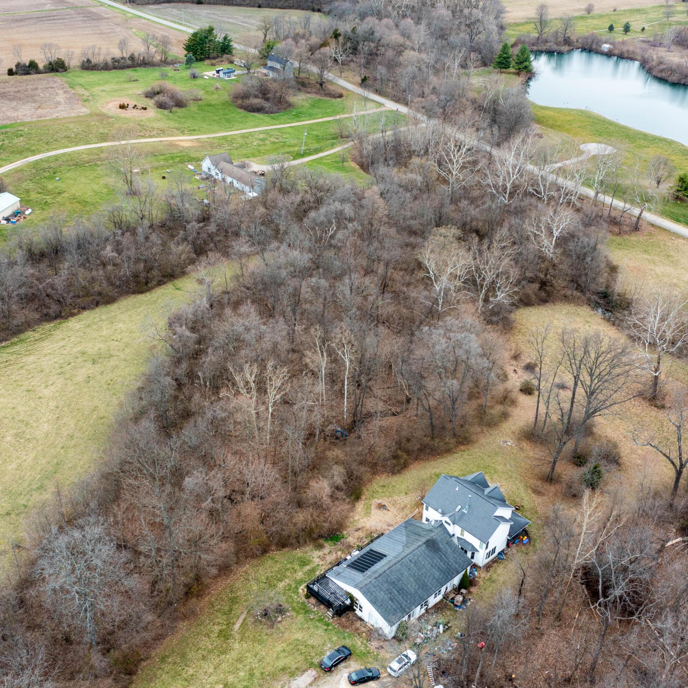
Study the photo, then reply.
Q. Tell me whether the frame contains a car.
Yes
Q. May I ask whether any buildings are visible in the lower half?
Yes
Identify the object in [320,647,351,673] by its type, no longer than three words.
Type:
car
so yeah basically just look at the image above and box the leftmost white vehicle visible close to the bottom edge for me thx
[387,651,417,677]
